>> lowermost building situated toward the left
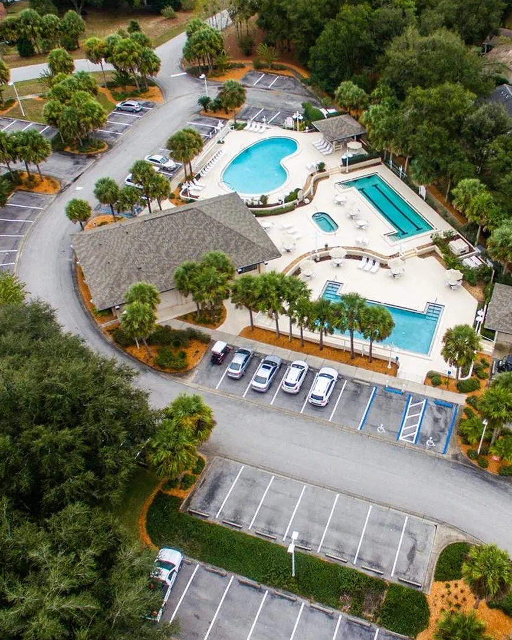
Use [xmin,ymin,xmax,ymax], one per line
[66,191,281,328]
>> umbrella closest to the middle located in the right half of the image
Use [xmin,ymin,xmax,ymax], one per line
[296,260,320,275]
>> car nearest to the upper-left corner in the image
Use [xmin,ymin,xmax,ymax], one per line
[116,98,143,113]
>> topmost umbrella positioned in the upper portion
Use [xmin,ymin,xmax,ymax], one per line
[345,139,364,151]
